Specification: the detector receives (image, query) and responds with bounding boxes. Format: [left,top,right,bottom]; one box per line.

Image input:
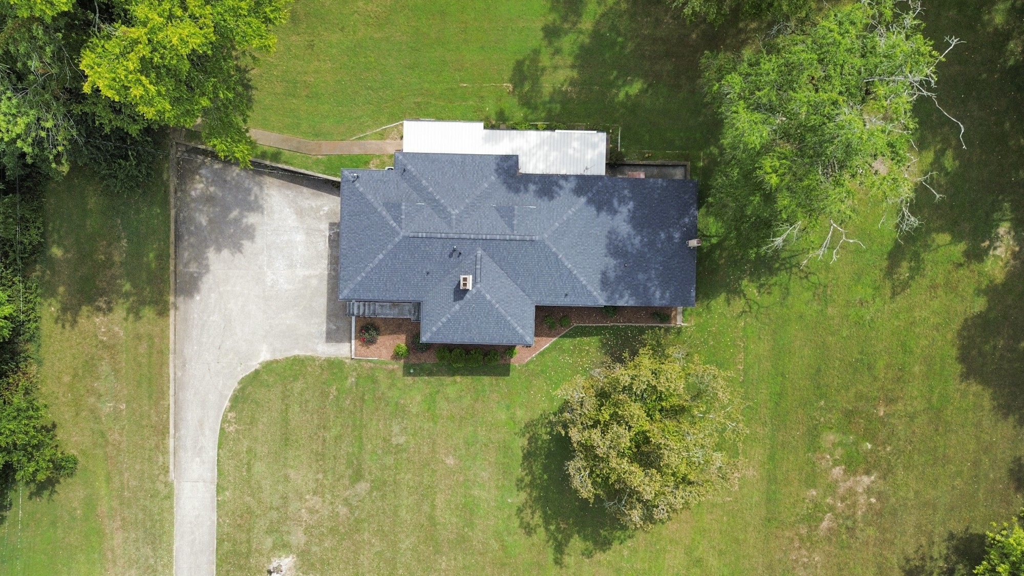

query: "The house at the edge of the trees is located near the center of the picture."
[337,120,704,346]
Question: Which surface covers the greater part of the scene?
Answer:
grass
